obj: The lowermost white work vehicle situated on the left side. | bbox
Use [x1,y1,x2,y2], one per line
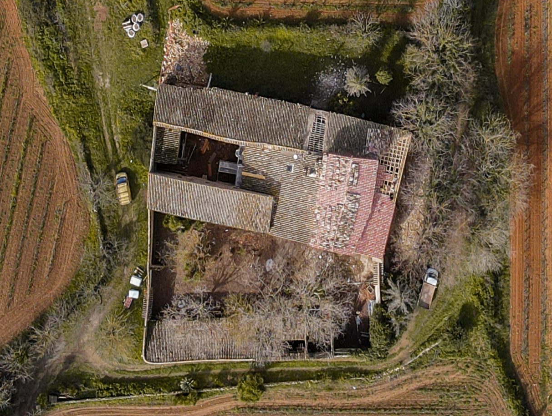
[123,288,140,308]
